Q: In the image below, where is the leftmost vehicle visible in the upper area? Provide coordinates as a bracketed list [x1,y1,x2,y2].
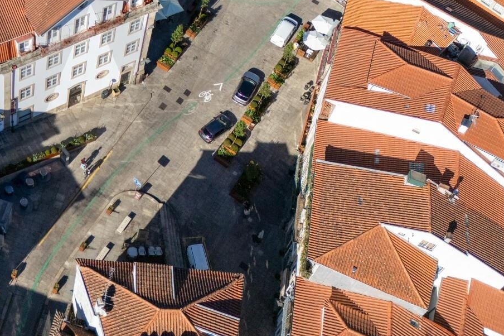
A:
[197,109,236,145]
